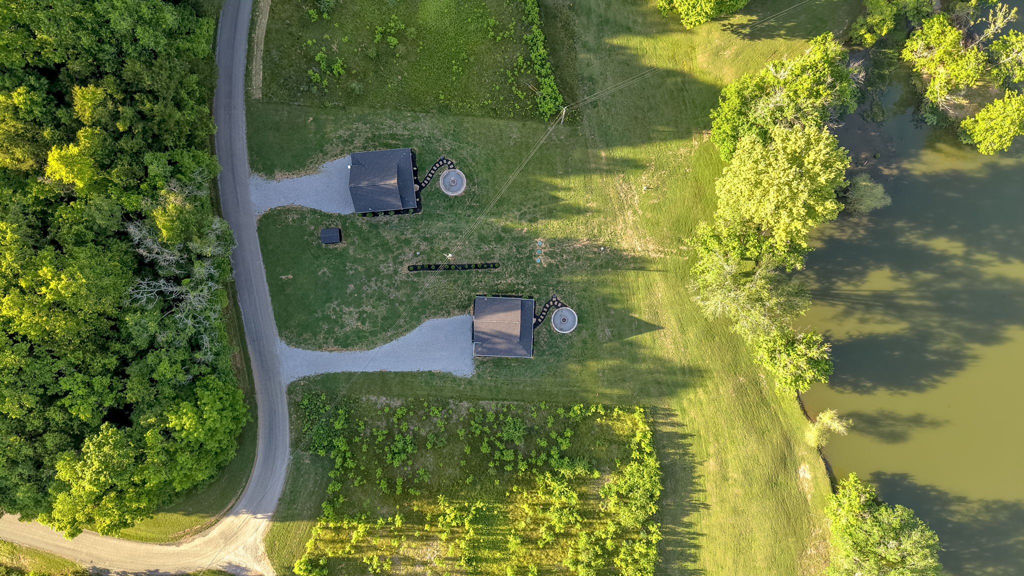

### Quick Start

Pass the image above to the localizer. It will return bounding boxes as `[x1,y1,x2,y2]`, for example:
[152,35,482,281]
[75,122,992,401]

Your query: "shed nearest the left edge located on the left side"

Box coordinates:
[320,229,343,244]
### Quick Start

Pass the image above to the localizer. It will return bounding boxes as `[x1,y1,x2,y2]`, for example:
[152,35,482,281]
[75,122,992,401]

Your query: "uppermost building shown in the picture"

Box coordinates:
[346,147,417,213]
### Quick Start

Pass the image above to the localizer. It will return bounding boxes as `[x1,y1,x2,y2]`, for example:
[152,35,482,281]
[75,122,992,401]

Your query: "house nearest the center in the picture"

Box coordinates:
[473,295,535,359]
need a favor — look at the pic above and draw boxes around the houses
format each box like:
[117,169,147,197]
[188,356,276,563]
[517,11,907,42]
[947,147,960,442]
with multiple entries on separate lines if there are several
[346,147,417,213]
[473,295,535,359]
